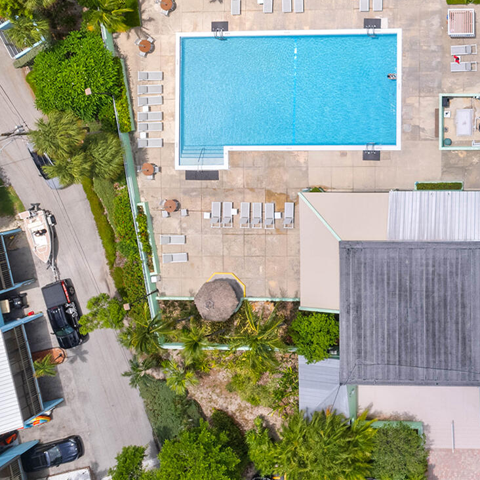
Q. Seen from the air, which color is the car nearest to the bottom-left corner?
black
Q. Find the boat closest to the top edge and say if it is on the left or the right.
left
